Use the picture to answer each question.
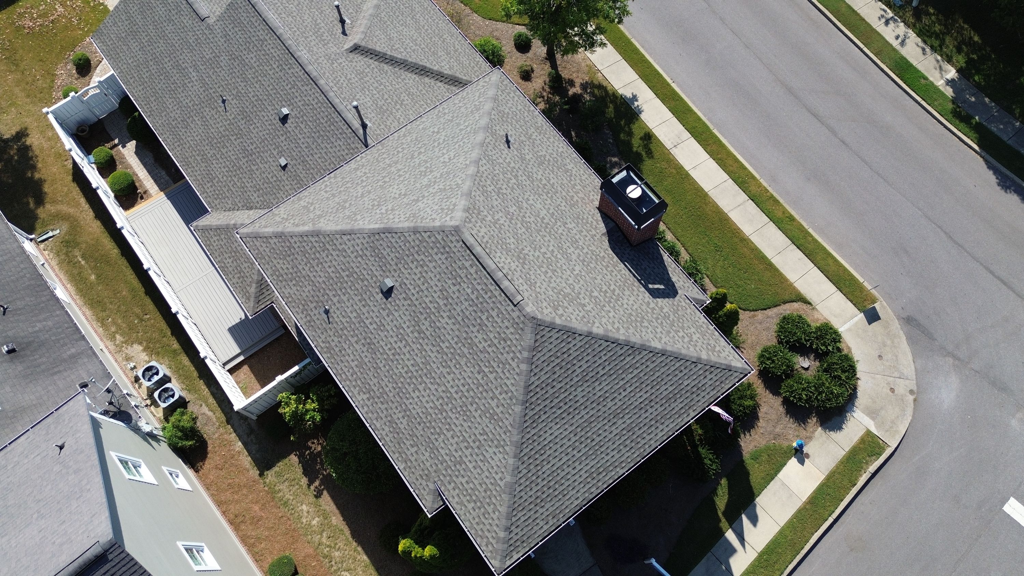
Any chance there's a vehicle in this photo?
No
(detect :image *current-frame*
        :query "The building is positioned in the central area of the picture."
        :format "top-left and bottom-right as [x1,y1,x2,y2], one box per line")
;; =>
[92,0,753,574]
